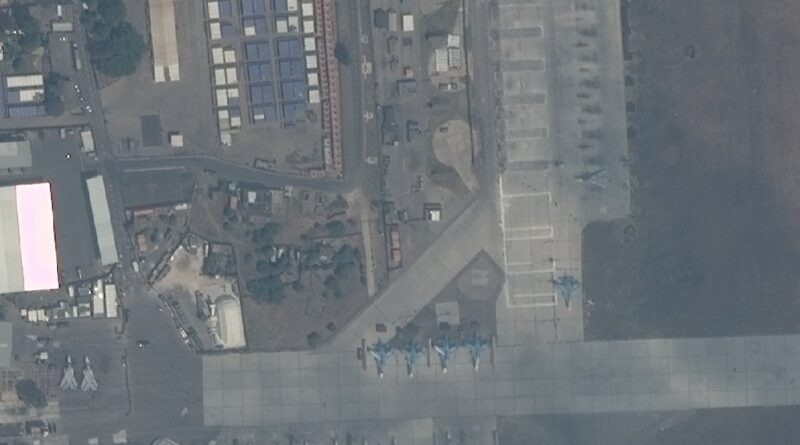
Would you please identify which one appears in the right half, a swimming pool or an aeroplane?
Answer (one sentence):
The one visible in the right half is an aeroplane.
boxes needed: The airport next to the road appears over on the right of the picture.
[203,0,800,445]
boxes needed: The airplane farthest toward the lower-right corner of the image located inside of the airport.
[555,271,580,310]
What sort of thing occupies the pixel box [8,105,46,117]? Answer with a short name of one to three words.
building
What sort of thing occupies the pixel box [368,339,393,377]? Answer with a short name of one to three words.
airplane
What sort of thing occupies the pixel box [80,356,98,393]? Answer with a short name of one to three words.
airplane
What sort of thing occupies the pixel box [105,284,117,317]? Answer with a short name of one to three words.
shed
